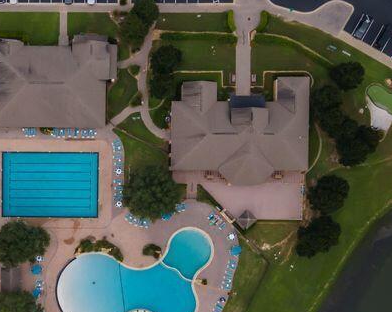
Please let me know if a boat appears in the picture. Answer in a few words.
No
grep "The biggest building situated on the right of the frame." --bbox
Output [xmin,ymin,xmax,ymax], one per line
[169,77,310,186]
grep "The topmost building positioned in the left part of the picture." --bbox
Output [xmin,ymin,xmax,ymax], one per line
[0,35,118,129]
